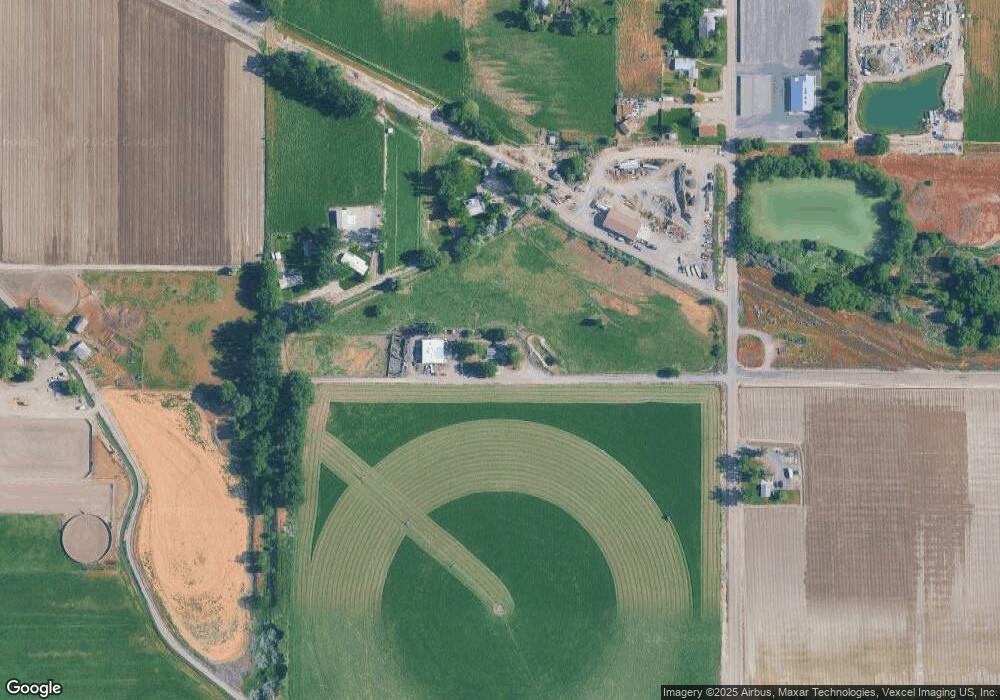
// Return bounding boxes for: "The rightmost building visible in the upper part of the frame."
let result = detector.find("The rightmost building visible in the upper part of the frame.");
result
[790,74,817,112]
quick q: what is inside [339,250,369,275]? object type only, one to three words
house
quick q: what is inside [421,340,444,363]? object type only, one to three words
barn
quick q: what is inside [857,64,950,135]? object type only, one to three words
pond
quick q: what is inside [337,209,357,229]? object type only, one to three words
barn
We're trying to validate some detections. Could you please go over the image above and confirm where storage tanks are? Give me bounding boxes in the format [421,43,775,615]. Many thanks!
[61,515,110,564]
